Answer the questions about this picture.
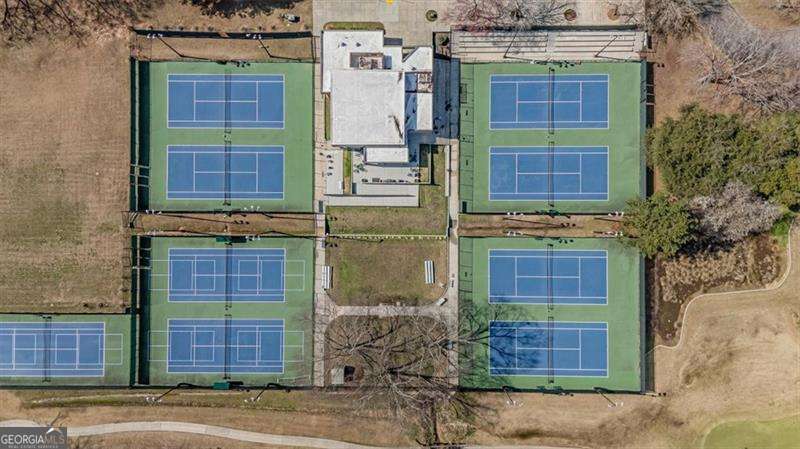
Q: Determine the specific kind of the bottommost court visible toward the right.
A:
tennis court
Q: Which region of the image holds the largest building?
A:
top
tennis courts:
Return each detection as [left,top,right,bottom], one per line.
[136,62,313,137]
[136,137,313,212]
[139,311,313,386]
[136,238,313,311]
[460,137,641,212]
[0,315,131,386]
[460,62,641,137]
[460,312,641,389]
[460,238,641,312]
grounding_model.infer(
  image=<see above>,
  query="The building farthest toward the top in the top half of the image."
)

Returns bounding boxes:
[320,31,432,165]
